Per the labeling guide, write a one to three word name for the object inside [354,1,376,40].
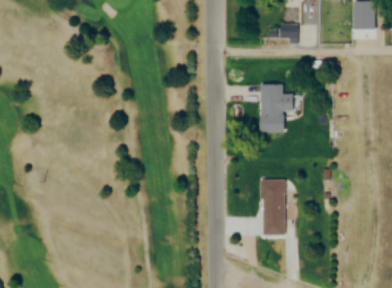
building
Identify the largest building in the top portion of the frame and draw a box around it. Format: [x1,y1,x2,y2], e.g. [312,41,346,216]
[260,84,295,132]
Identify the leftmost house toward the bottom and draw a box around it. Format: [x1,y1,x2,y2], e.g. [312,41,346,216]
[261,180,286,235]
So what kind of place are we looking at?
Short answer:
golf course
